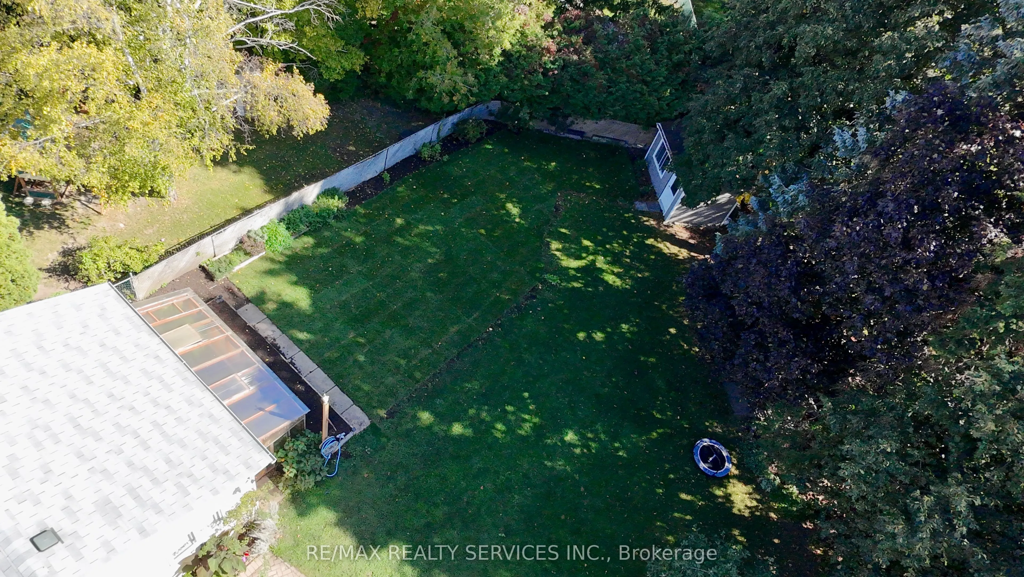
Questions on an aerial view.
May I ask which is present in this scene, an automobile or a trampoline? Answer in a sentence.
The one in the frame is a trampoline.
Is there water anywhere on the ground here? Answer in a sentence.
No, water can't be seen anywhere here.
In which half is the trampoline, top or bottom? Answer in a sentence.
The bottom half of the photo is where the trampoline is.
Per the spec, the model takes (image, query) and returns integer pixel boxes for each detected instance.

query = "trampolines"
[693,438,732,479]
